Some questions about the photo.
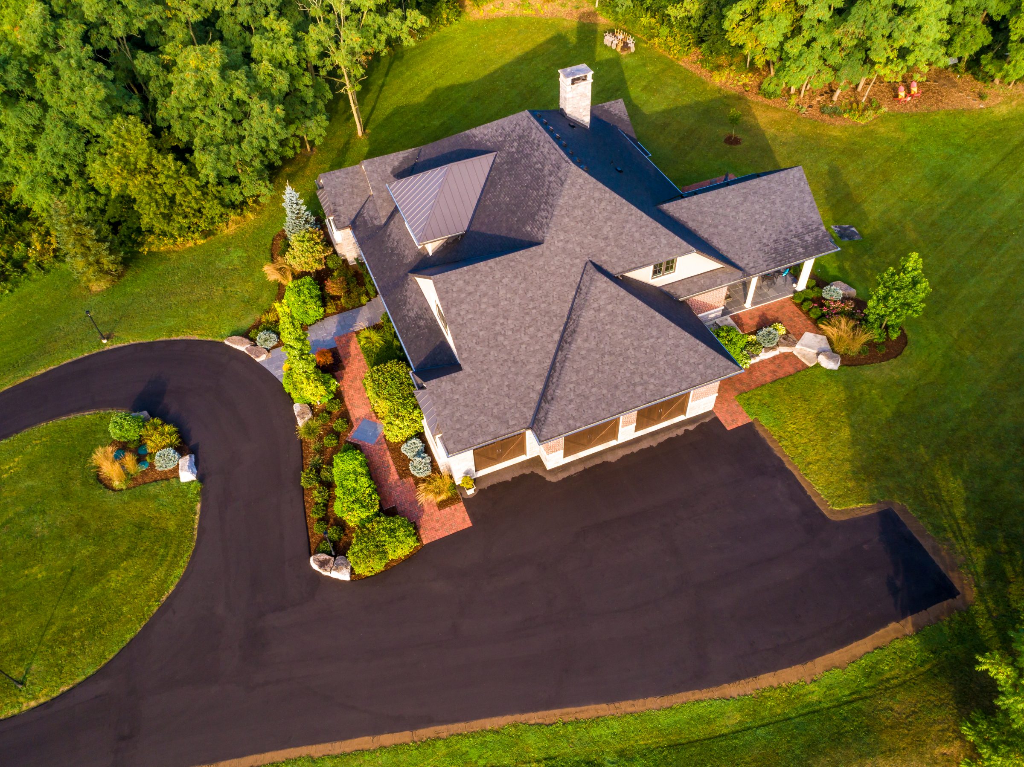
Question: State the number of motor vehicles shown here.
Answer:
0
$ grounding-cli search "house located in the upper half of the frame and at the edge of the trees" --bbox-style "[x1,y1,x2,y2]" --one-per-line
[303,64,843,486]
